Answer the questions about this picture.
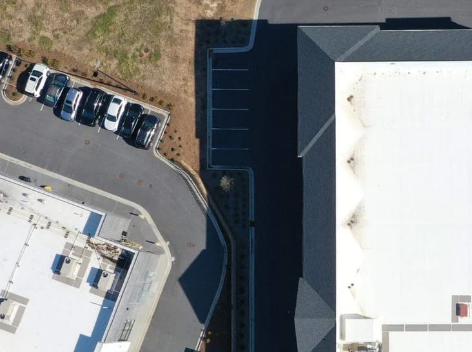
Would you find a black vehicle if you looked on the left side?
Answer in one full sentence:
Yes, looking on the left side, one can make out a black vehicle.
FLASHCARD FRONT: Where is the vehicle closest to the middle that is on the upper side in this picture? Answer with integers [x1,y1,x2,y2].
[134,114,160,150]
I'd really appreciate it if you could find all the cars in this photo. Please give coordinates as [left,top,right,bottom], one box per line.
[134,114,160,150]
[60,85,85,122]
[83,89,108,125]
[0,50,9,81]
[104,95,128,131]
[119,104,143,139]
[45,73,70,109]
[25,63,50,97]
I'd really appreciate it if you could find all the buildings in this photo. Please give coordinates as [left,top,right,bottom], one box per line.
[293,24,472,352]
[0,170,160,352]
